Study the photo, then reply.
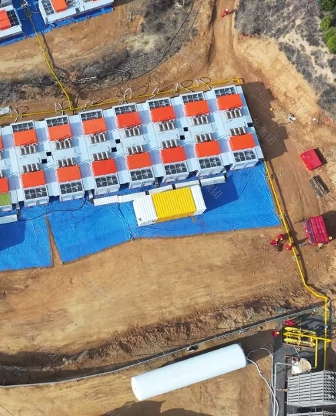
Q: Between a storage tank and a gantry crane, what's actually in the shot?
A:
storage tank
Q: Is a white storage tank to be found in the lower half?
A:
Yes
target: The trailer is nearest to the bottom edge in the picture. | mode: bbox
[290,215,333,249]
